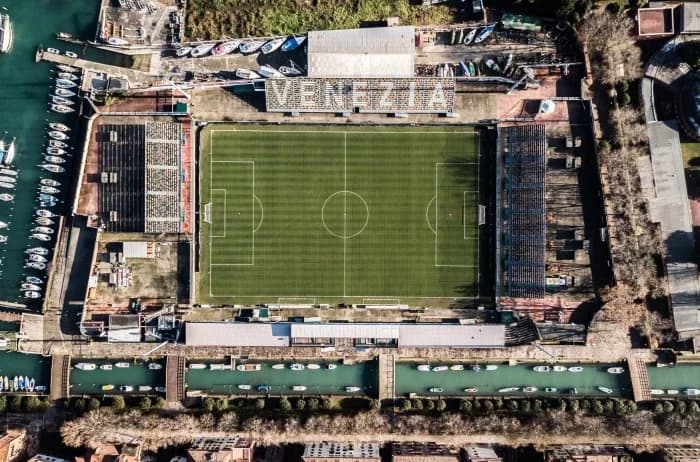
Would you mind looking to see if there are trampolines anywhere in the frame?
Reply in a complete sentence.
No, no trampoline is visible in the scene.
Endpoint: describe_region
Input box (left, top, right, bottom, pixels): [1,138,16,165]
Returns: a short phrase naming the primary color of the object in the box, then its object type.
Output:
white boat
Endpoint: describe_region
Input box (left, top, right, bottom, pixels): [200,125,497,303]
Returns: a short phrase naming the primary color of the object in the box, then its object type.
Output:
green soccer field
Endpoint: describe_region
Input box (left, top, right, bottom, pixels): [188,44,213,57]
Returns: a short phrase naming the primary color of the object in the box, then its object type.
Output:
white boat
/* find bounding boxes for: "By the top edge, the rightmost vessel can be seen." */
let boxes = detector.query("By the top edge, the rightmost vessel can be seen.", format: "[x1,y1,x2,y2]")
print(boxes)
[500,13,542,33]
